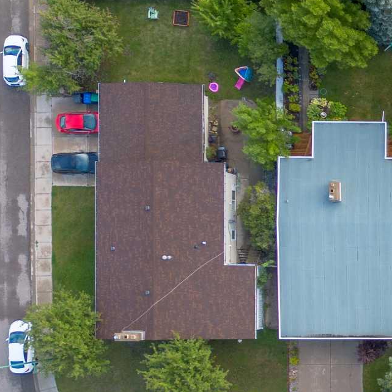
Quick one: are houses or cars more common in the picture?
cars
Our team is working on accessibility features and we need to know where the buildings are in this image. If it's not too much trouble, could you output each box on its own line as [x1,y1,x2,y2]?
[96,81,266,340]
[276,111,392,340]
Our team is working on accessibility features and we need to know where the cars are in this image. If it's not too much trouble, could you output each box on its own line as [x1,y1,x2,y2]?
[48,108,98,132]
[0,35,27,86]
[0,320,31,375]
[43,148,98,174]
